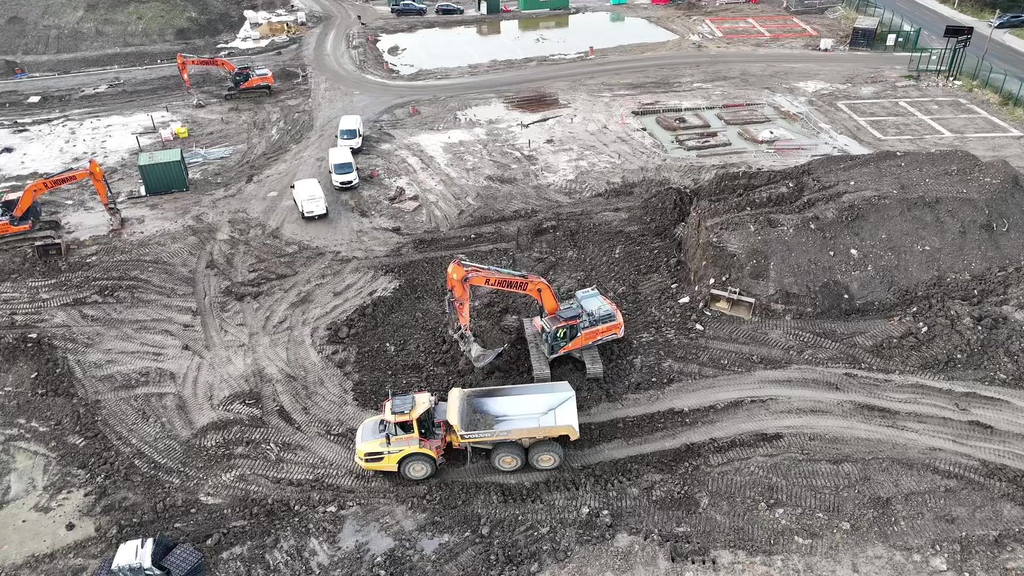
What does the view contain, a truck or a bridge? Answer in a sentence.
The image shows a truck.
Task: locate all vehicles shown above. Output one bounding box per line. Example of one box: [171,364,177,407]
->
[337,112,364,147]
[989,14,1024,27]
[174,49,280,103]
[441,258,620,386]
[392,0,428,15]
[435,2,464,15]
[294,181,330,220]
[356,387,582,483]
[0,154,117,247]
[328,144,356,185]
